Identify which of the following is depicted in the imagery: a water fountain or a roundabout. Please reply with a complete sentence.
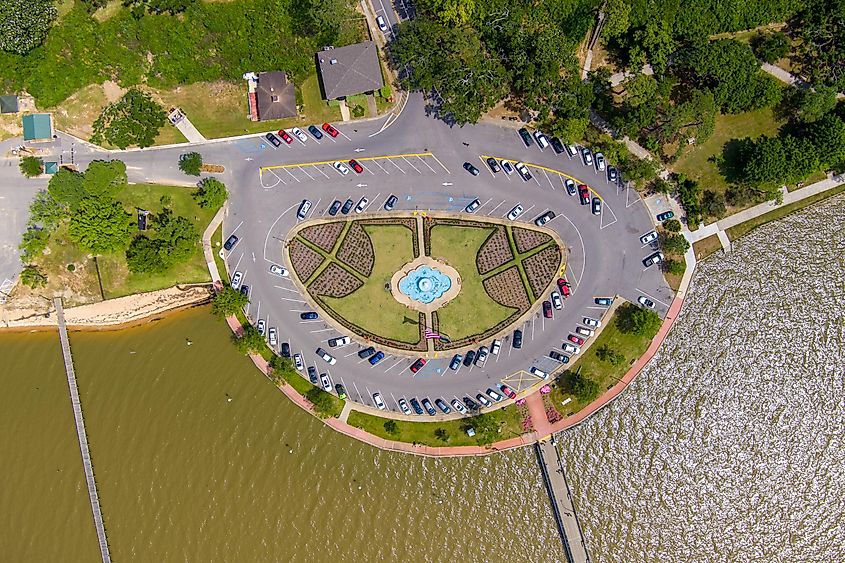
This aerial view contains a water fountain.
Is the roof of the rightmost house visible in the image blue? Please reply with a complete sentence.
No, the roof of the rightmost house is actually gray.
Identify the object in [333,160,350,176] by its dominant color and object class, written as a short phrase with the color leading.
white car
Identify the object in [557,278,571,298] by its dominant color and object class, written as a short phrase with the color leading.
red car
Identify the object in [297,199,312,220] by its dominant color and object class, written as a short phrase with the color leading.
white car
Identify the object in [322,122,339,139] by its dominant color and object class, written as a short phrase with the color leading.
red car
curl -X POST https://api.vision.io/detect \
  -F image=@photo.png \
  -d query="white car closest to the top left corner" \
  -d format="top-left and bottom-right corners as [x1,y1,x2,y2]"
[292,126,309,143]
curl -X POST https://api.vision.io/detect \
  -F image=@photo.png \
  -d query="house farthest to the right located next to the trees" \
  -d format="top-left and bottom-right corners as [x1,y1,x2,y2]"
[319,38,382,95]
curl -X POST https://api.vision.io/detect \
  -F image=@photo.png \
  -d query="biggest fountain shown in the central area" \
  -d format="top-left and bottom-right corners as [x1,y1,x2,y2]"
[399,265,451,304]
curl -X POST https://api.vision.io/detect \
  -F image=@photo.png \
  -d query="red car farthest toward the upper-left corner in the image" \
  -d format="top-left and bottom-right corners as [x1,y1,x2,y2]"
[277,129,294,145]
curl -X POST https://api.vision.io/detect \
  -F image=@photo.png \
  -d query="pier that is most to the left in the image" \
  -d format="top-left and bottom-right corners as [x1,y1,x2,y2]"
[54,297,112,563]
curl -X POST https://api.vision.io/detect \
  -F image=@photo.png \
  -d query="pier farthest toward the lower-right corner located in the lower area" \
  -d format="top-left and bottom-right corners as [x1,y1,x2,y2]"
[538,435,592,563]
